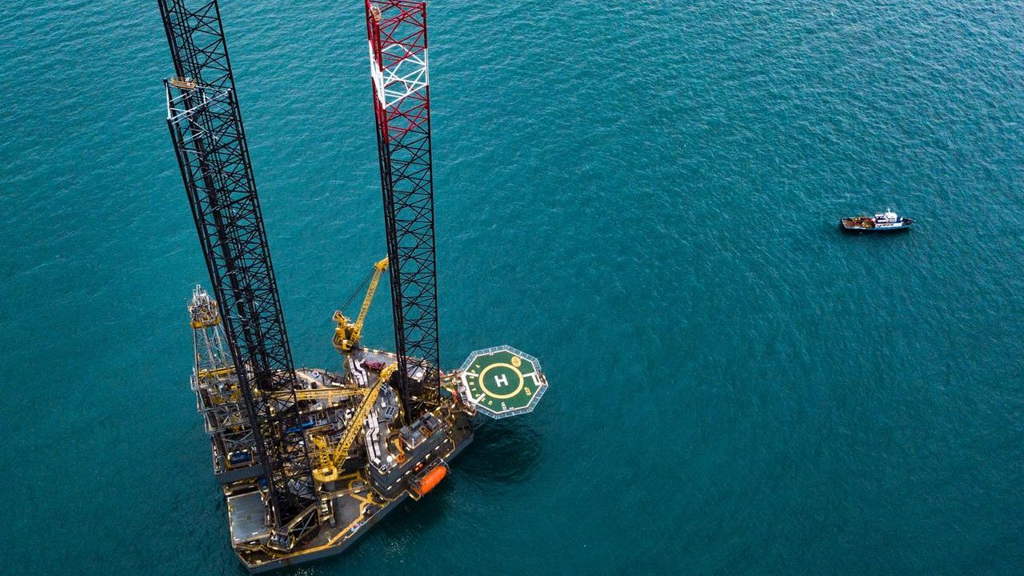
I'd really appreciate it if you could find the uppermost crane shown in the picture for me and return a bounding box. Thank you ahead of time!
[330,260,387,374]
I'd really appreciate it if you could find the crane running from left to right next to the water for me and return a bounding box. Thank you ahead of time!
[256,386,366,435]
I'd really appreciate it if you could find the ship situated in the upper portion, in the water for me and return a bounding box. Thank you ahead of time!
[841,205,915,231]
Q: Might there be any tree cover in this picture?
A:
No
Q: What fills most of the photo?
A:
water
